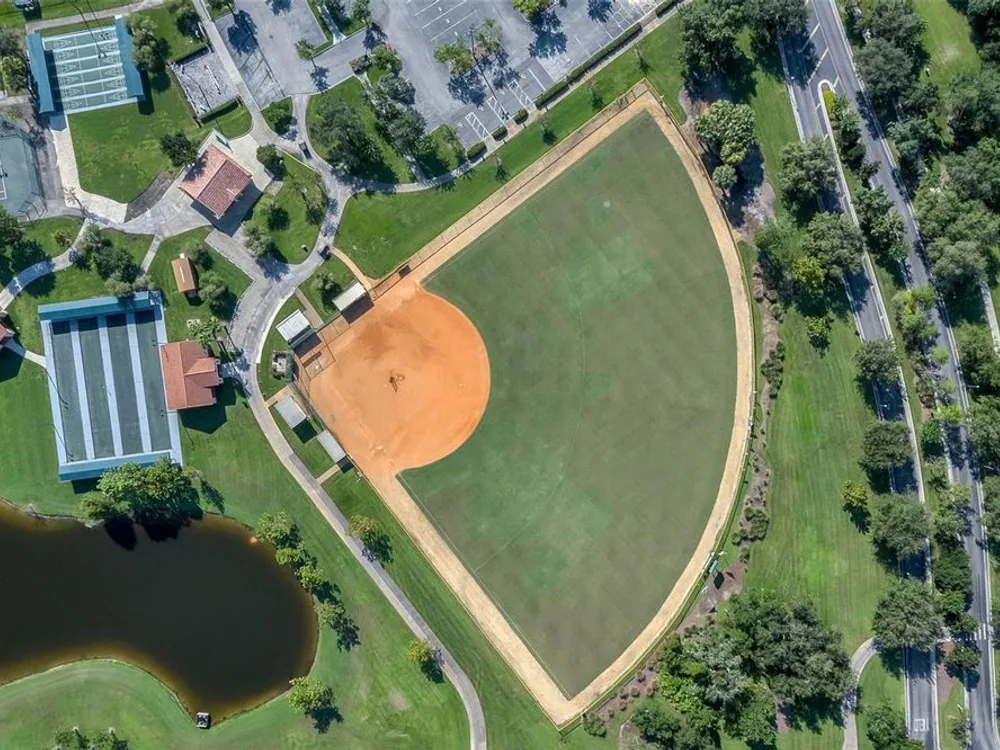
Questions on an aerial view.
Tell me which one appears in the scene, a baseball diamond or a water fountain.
baseball diamond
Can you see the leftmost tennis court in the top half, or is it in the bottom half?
top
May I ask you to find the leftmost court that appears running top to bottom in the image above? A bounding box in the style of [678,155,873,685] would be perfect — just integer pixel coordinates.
[0,116,46,222]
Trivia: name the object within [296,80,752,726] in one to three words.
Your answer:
baseball field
